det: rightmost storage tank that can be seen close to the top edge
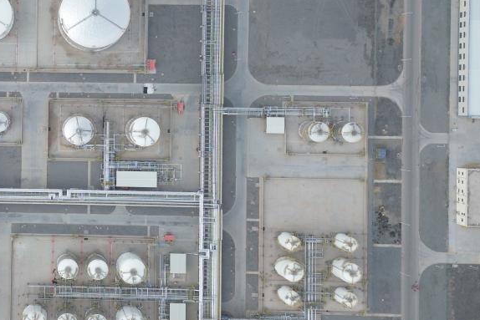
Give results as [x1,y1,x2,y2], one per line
[55,0,131,54]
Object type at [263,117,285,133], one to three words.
shed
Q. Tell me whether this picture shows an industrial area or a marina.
industrial area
